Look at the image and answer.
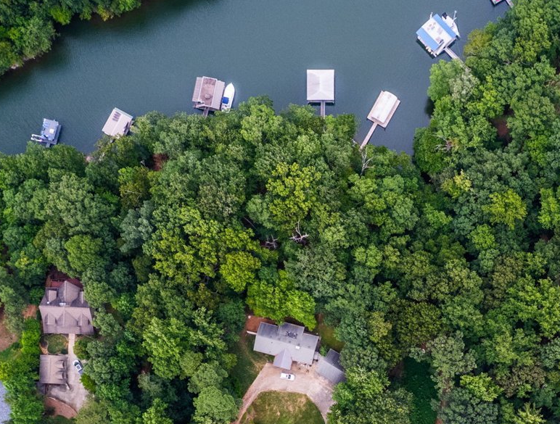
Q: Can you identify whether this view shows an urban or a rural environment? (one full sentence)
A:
It looks rural.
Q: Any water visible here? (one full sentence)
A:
Yes, water can be seen from above here.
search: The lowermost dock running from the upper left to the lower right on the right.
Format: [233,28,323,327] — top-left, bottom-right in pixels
[416,15,474,73]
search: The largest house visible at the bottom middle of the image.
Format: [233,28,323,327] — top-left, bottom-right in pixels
[255,323,320,370]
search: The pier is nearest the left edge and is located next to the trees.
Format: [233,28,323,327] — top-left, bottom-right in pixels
[40,118,62,145]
